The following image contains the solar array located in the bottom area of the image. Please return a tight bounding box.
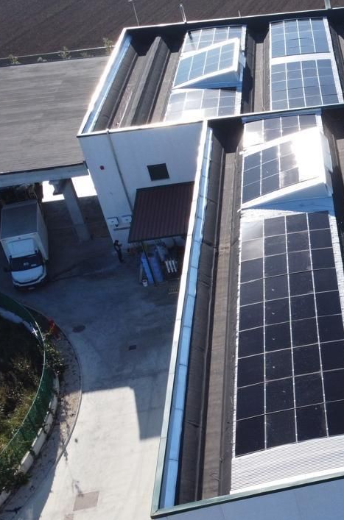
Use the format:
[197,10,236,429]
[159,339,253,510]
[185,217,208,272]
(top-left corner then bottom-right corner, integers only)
[231,211,344,459]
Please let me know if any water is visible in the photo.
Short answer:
No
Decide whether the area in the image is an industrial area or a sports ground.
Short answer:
industrial area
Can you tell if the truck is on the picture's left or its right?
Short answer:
left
